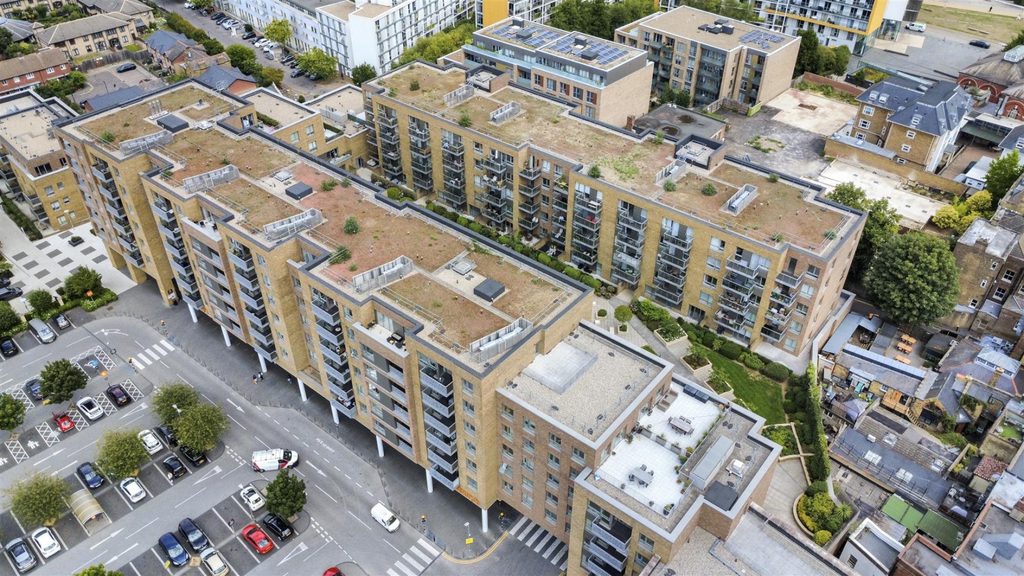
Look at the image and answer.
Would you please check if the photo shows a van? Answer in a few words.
Yes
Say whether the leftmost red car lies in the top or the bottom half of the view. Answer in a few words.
bottom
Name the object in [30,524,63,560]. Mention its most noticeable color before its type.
white car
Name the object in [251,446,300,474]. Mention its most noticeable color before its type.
white van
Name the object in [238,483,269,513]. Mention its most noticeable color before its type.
white car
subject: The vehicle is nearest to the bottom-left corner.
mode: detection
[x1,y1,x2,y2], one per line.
[4,537,38,574]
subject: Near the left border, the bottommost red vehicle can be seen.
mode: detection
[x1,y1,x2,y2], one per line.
[50,409,77,434]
